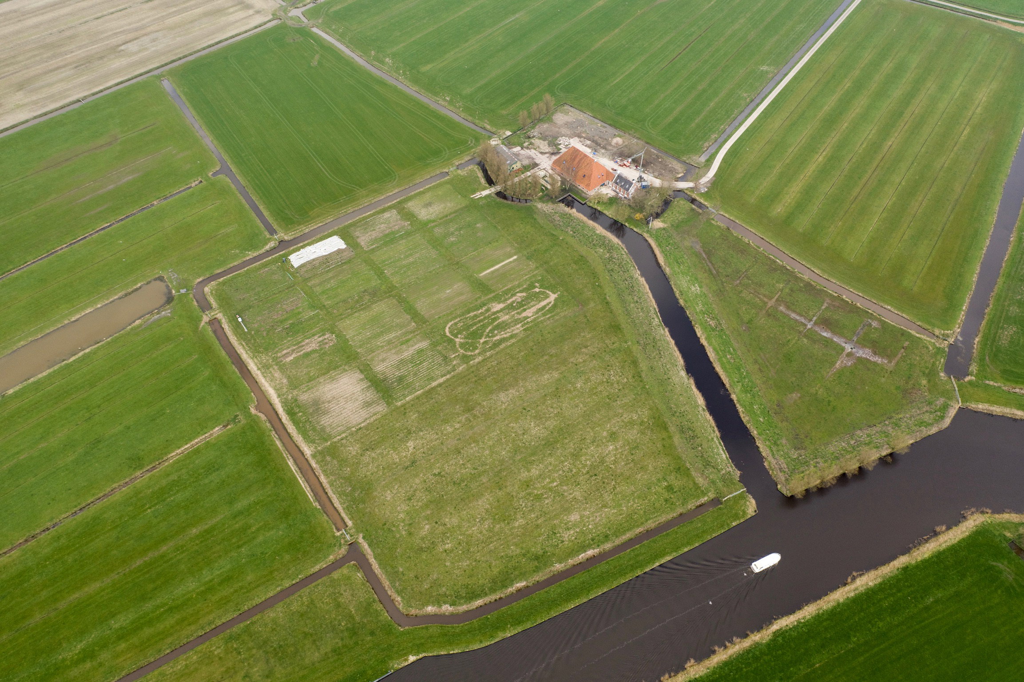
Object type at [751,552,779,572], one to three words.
boat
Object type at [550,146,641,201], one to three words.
house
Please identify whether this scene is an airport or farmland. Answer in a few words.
farmland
